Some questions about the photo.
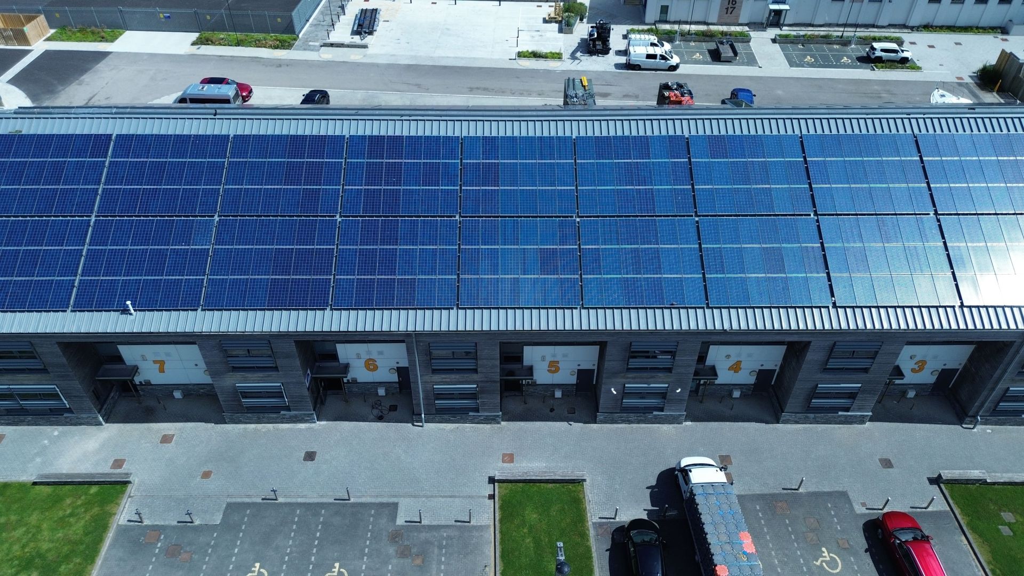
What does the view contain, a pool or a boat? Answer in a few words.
boat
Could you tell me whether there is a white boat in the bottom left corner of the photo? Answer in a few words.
No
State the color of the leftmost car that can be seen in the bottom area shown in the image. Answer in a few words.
black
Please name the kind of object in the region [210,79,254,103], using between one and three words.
car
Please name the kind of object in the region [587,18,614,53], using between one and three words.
work vehicle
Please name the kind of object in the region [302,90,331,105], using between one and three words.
car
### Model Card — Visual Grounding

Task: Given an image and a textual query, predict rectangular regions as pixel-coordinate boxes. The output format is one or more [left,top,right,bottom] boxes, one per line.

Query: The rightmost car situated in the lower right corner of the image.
[876,509,954,576]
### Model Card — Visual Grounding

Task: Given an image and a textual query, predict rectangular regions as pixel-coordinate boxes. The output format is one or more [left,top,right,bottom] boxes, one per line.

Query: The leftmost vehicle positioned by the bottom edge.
[622,517,673,576]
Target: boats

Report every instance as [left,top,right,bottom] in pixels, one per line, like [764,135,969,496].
[923,81,980,106]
